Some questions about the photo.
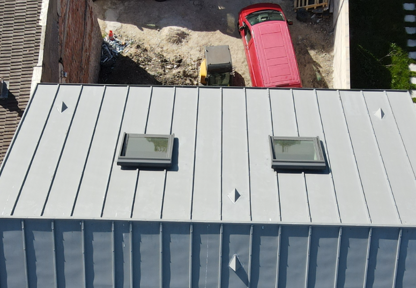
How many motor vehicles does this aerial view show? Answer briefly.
two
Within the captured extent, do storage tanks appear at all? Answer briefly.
No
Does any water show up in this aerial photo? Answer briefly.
No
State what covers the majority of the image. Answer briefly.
buildings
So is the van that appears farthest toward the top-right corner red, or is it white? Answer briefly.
red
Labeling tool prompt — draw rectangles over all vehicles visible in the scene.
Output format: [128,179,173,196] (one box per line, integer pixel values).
[200,45,235,84]
[235,4,300,86]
